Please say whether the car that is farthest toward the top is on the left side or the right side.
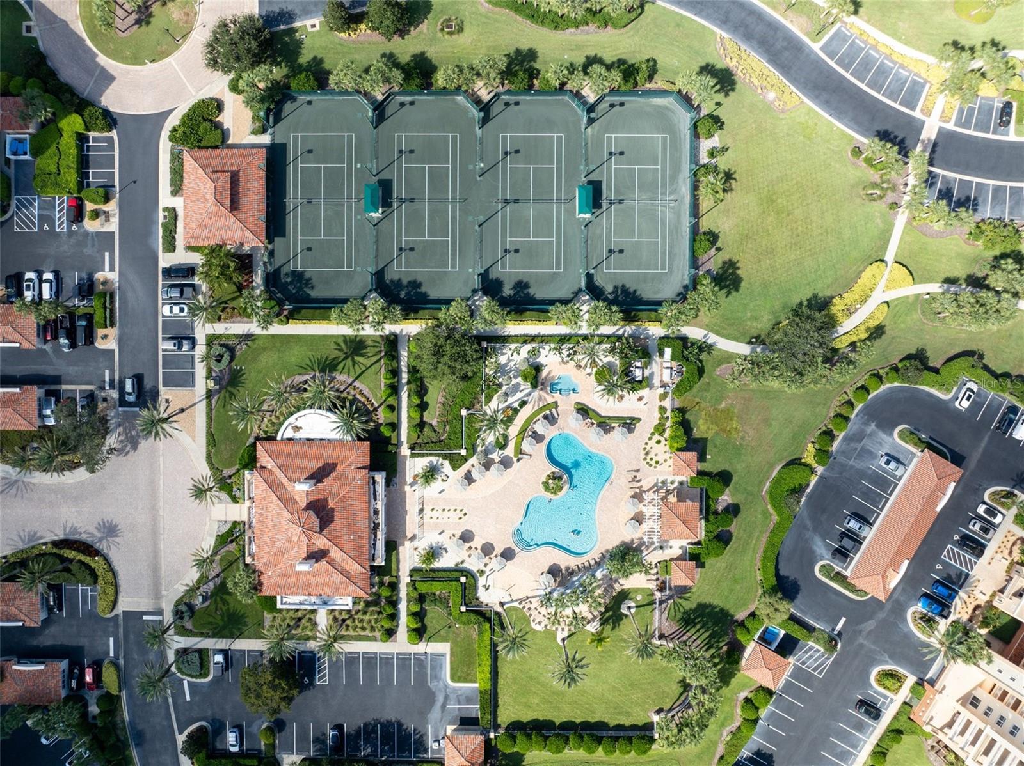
right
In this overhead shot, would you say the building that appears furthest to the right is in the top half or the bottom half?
bottom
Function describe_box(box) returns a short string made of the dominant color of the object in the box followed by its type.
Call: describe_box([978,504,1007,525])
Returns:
white car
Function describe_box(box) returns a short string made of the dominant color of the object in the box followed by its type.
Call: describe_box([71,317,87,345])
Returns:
black car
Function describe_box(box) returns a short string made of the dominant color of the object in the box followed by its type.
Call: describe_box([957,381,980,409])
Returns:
white car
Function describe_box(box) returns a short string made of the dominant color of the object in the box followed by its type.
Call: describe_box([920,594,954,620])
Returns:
blue truck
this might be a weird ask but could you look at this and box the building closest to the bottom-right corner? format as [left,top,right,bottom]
[905,559,1024,766]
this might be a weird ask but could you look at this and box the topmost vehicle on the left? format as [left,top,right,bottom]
[64,198,80,225]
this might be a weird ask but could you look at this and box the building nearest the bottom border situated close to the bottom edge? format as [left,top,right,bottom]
[444,726,484,766]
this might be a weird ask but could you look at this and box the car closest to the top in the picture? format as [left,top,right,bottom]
[998,98,1018,127]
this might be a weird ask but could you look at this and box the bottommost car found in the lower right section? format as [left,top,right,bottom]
[856,699,885,721]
